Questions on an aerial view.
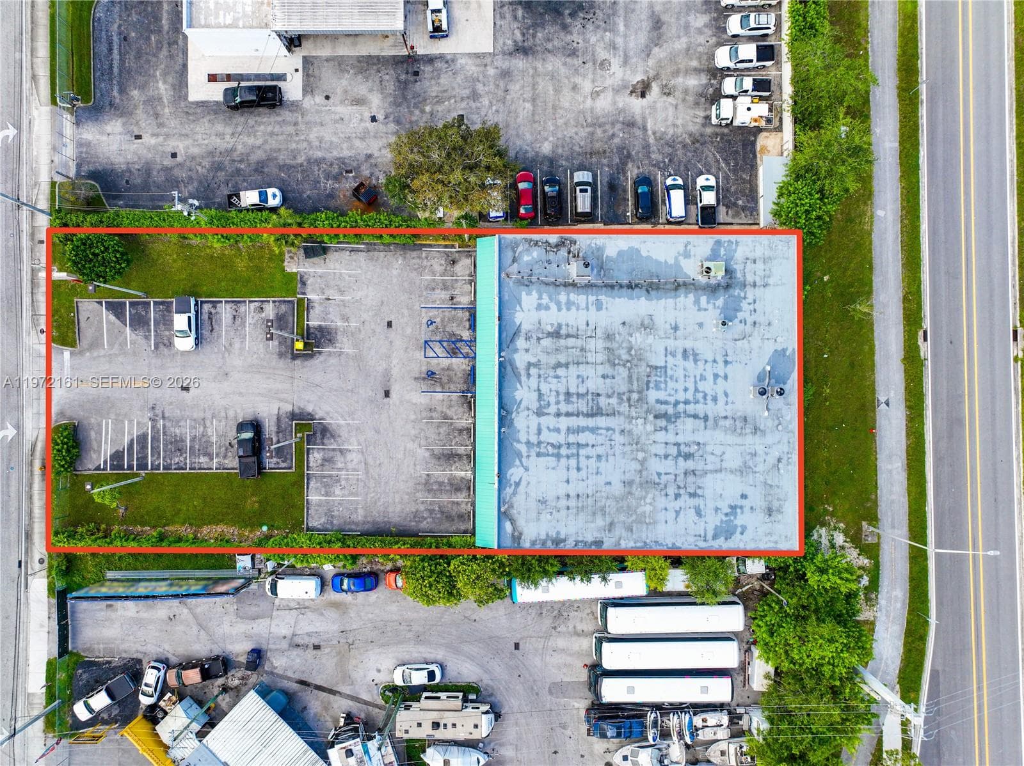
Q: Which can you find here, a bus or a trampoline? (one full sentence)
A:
This aerial view contains a bus.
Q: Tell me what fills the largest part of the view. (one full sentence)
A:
The bulk of the photo consists of paved ground.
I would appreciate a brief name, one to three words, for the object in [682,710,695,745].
boat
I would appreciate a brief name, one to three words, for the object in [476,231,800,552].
building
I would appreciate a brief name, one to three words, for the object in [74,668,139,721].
truck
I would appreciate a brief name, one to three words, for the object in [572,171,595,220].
car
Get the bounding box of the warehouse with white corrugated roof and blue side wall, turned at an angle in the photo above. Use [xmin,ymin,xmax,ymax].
[197,674,344,766]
